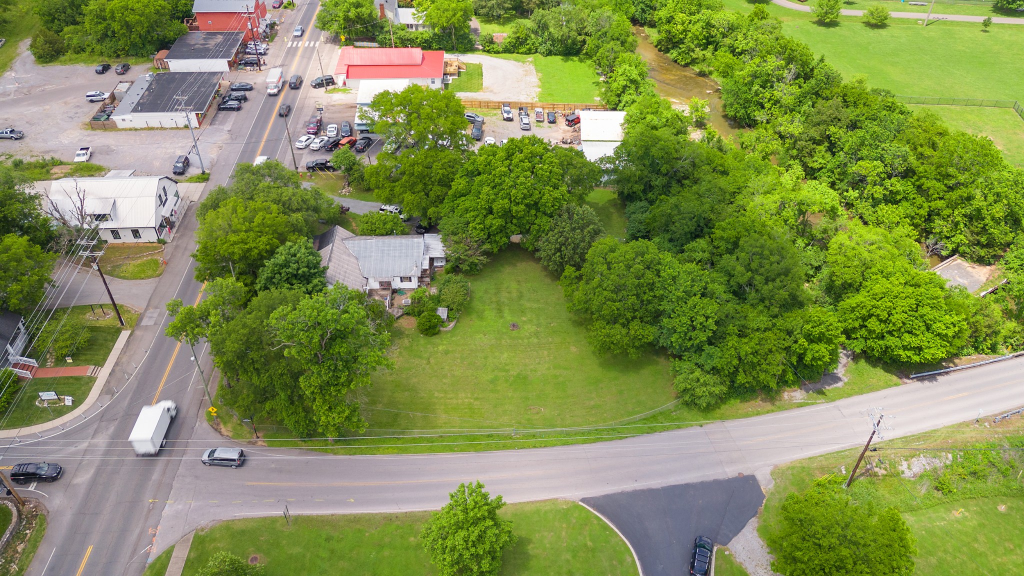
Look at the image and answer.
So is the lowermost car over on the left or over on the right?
right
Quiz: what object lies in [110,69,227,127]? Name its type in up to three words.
building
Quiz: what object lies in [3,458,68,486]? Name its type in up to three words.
car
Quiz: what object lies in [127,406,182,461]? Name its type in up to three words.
truck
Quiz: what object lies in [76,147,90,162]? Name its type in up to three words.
vehicle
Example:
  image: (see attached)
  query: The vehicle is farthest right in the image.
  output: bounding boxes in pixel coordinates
[685,533,716,576]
